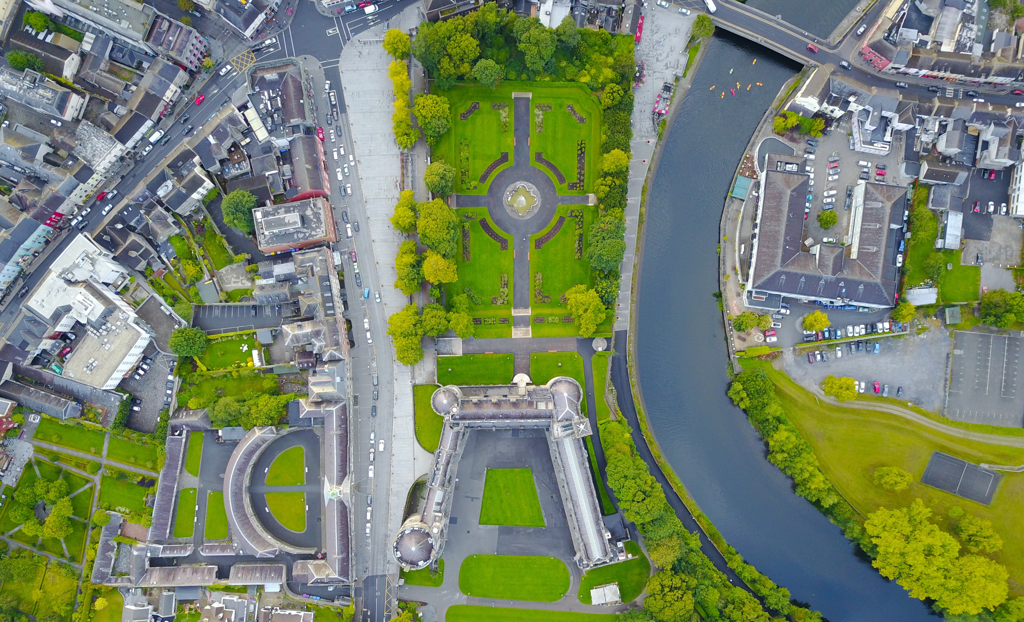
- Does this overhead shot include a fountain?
Yes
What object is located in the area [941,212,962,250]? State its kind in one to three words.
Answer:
shed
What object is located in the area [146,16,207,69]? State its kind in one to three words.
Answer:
building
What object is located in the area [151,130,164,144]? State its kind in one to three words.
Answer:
vehicle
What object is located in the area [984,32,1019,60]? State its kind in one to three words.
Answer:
house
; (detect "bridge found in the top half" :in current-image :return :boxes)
[710,0,825,69]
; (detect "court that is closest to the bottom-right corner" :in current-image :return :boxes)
[921,450,1006,508]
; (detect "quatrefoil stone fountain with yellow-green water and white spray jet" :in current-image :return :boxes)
[503,181,541,219]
